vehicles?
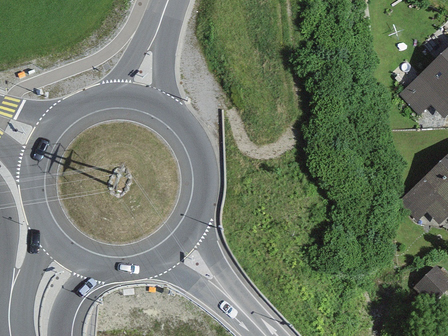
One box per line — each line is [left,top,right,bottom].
[218,299,238,320]
[78,277,98,298]
[28,230,40,254]
[32,138,48,162]
[118,264,140,274]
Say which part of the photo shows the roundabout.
left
